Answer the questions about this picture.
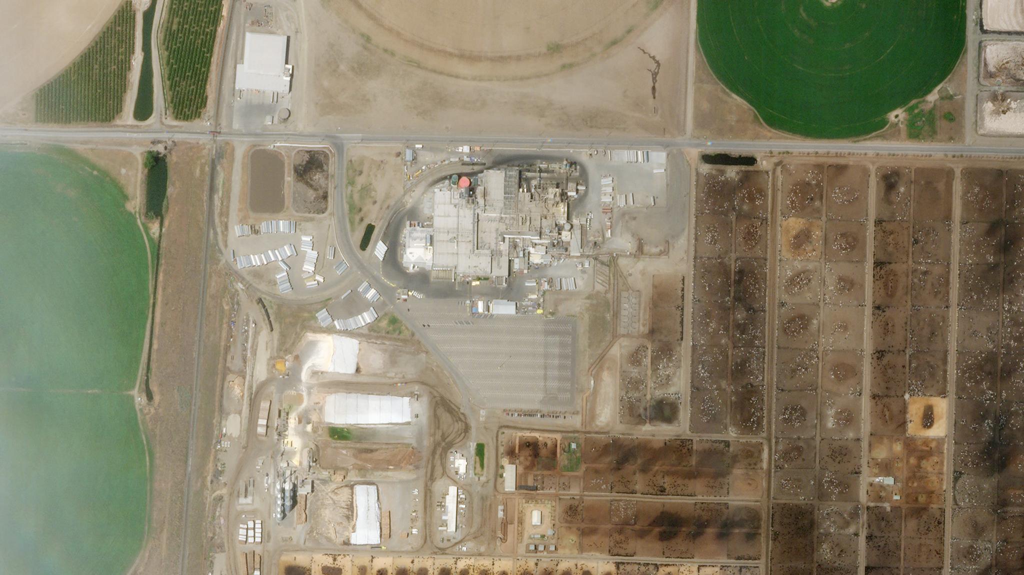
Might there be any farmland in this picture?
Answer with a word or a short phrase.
Yes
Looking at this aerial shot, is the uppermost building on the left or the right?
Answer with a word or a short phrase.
left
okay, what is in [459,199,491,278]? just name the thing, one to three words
building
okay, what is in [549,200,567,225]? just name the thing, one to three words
building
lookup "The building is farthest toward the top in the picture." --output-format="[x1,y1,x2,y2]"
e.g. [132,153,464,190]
[244,32,287,76]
